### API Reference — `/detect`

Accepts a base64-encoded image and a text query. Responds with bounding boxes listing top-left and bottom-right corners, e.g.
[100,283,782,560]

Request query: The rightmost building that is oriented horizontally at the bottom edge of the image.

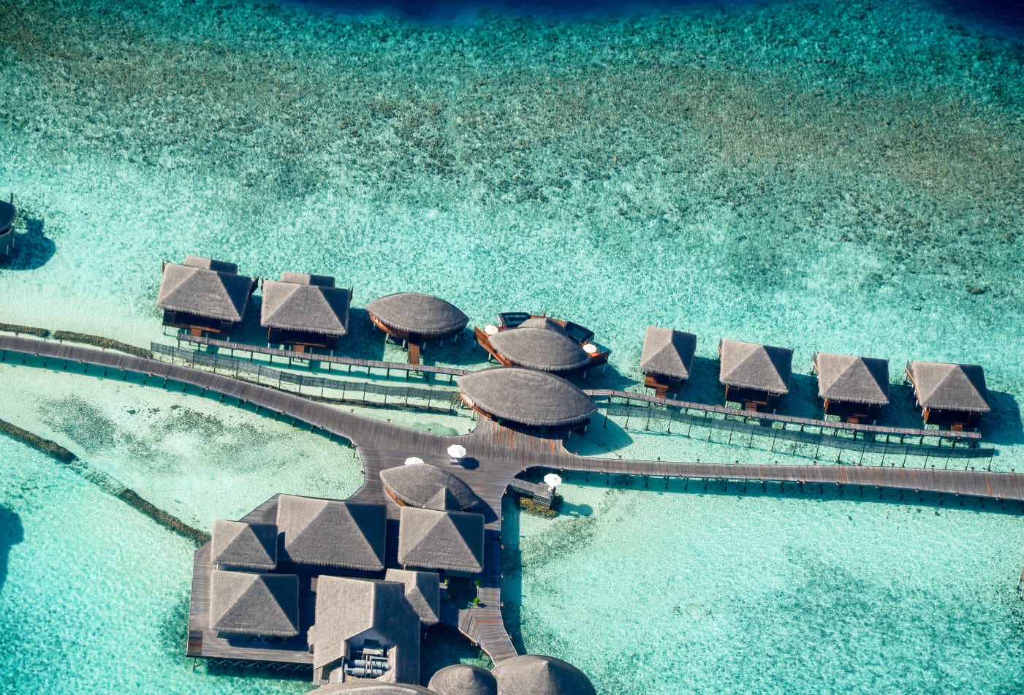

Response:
[491,651,599,695]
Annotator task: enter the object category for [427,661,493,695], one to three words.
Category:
building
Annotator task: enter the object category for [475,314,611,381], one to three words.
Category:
building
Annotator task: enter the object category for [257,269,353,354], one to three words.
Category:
house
